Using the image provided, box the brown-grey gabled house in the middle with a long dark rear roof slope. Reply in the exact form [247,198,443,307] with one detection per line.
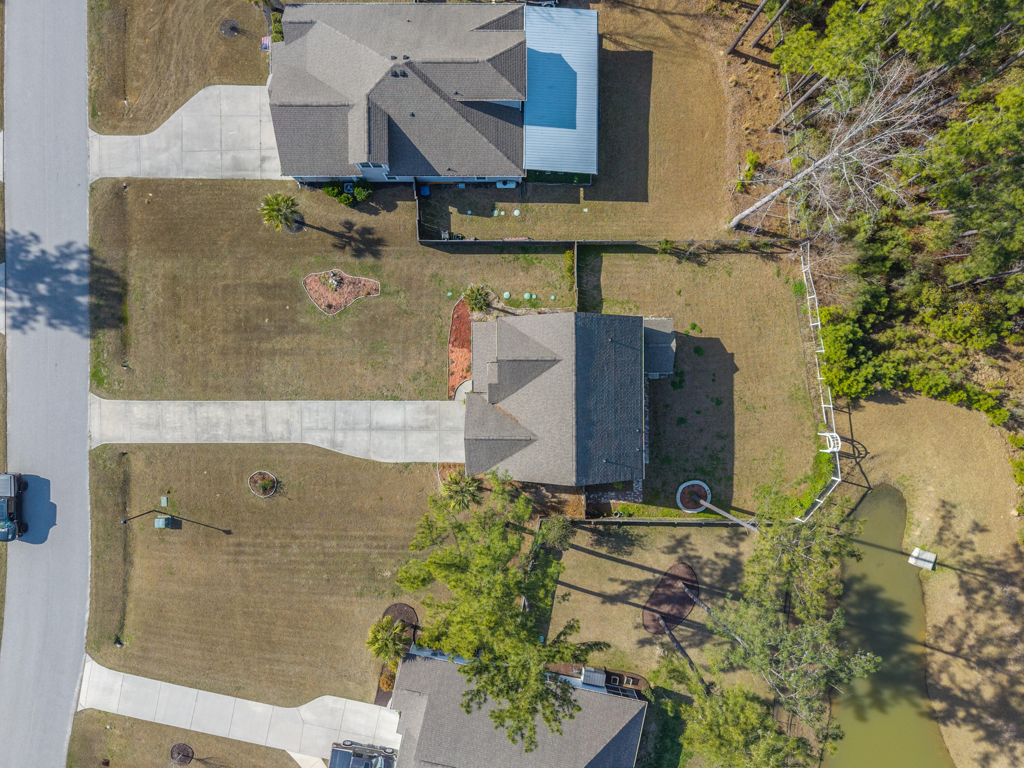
[465,312,675,485]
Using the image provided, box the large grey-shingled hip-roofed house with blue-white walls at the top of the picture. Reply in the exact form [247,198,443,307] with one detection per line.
[268,1,599,188]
